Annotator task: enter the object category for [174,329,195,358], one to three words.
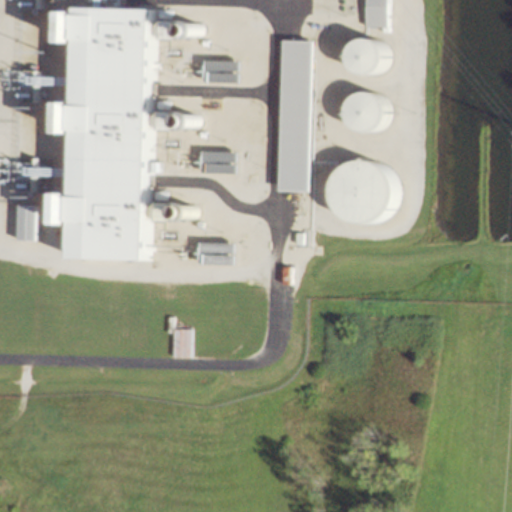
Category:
shed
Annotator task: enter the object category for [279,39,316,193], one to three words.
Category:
building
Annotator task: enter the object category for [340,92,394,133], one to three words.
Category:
storage tank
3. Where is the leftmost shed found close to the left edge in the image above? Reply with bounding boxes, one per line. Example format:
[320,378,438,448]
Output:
[16,204,44,241]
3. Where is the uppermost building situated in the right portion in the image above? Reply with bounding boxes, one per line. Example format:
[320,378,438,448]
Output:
[365,0,394,33]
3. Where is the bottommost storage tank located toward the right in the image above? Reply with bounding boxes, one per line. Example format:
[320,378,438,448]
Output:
[324,158,404,224]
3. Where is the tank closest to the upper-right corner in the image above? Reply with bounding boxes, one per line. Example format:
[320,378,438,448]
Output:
[340,38,394,76]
